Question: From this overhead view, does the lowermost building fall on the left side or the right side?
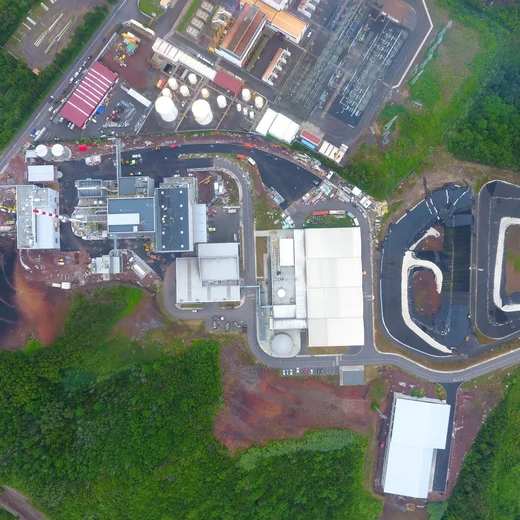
right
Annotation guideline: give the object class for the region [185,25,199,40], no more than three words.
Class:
cooling tower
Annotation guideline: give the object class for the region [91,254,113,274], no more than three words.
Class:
house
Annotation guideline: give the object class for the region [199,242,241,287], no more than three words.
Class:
building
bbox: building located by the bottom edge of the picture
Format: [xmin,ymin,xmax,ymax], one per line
[381,395,451,499]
